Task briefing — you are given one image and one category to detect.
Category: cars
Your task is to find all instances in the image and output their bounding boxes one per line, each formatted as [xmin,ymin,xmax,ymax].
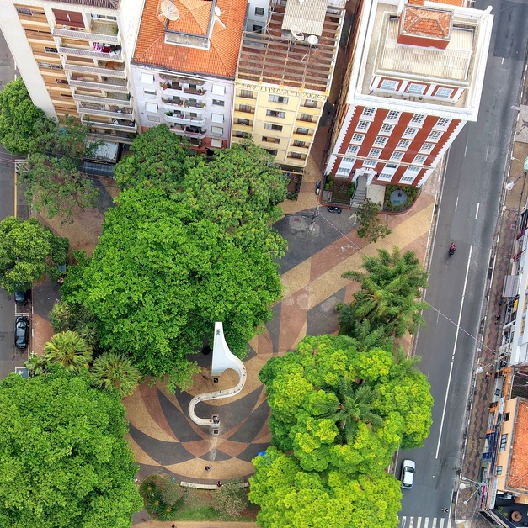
[14,286,28,310]
[399,458,416,490]
[12,314,30,349]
